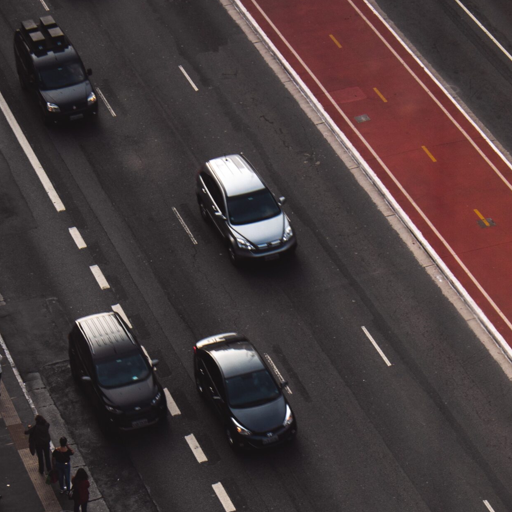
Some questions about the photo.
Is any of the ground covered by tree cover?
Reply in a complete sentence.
No, the picture contains no tree cover.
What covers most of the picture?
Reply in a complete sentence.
The scene is dominated by paved ground.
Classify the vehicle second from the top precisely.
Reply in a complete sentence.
It looks like the vehicle second from the top is an automobile.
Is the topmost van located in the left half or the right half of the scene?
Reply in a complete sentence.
The topmost van sits on the left side.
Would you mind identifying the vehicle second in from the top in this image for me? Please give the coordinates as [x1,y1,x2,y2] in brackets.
[195,151,294,264]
